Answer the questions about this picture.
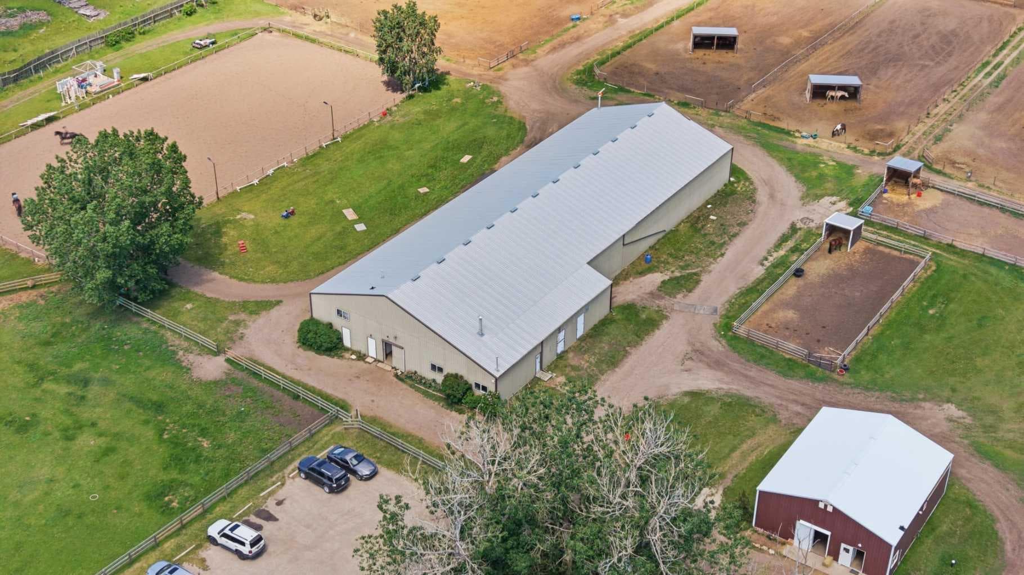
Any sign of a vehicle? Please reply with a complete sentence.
Yes, a vehicle is visible in the scene.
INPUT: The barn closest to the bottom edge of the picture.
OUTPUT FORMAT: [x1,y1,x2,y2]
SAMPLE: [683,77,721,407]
[750,408,956,575]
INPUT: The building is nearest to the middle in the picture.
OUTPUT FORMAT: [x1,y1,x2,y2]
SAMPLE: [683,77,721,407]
[308,91,736,396]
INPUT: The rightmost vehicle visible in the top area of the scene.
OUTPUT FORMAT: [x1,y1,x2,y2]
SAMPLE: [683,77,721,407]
[188,35,219,50]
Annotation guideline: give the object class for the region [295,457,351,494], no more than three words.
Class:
car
